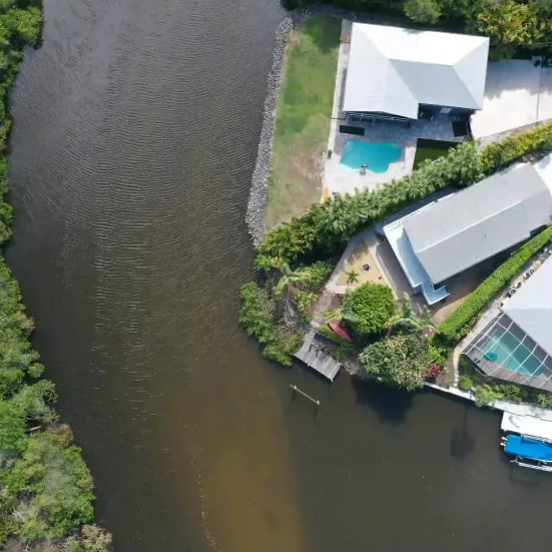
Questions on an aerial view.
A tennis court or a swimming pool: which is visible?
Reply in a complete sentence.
Visible in the photo is a swimming pool.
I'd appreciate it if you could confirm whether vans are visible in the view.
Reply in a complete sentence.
No, no van can be seen from above.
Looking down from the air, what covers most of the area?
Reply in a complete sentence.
What you mostly see from above here is water.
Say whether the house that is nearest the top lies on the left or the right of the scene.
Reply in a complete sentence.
You can find the house that is nearest the top on the right side of the picture.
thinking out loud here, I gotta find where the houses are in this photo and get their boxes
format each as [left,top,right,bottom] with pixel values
[382,164,552,304]
[343,23,490,128]
[499,255,552,357]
